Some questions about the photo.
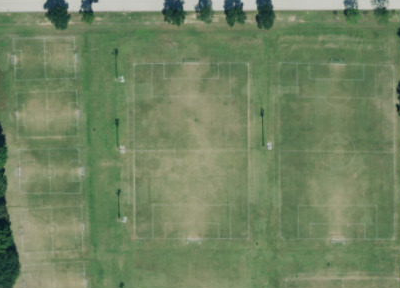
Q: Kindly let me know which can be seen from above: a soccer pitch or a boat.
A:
soccer pitch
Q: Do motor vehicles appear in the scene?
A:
No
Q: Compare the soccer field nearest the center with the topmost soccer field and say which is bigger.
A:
the soccer field nearest the center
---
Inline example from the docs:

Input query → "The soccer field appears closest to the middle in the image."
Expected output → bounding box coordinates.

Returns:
[128,64,254,240]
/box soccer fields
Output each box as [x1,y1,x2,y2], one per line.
[274,64,394,240]
[14,37,76,81]
[128,64,254,240]
[21,206,82,254]
[24,262,85,288]
[18,149,81,194]
[16,92,78,138]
